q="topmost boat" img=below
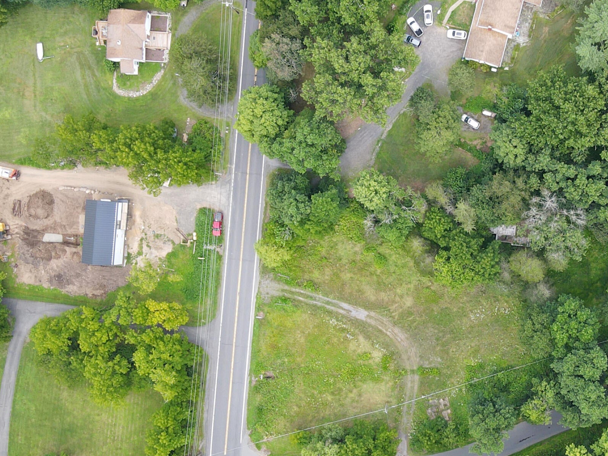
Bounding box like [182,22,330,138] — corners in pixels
[37,40,54,60]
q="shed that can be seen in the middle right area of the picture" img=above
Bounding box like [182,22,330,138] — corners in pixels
[489,227,528,246]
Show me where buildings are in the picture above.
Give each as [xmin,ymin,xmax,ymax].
[107,7,151,74]
[489,227,528,246]
[83,199,130,264]
[463,0,546,66]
